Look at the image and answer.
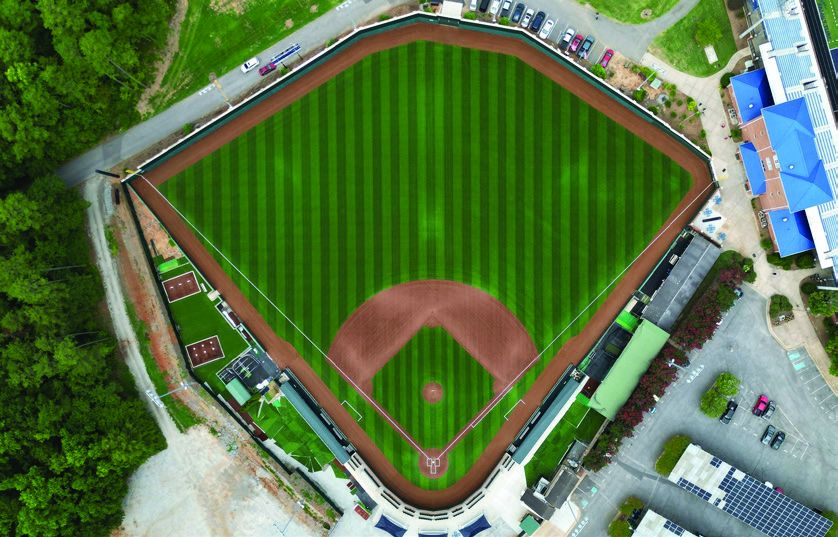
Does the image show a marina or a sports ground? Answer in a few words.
sports ground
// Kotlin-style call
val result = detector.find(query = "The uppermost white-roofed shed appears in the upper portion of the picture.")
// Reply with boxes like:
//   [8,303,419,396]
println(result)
[441,1,463,18]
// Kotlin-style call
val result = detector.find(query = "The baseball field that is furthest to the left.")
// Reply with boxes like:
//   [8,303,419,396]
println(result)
[128,23,717,510]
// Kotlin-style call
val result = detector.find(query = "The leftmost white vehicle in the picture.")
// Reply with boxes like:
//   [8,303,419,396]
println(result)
[242,56,260,70]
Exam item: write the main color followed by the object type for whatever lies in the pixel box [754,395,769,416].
pink car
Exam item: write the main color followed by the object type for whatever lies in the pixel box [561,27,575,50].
white vehicle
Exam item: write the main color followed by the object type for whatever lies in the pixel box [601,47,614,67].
red vehicle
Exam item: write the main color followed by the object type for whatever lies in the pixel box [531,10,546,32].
blue car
